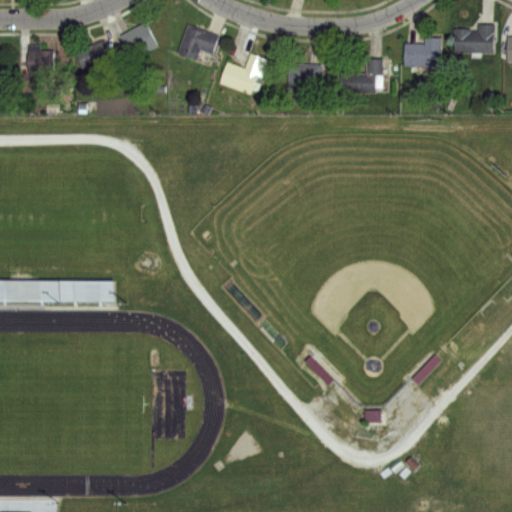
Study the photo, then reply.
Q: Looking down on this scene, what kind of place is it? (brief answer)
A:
sports ground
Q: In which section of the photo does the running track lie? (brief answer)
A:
bottom left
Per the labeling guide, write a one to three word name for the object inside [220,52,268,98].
house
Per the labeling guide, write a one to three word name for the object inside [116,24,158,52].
house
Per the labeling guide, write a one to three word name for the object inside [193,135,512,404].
baseball field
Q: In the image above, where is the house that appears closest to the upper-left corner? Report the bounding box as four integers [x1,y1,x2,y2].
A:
[28,44,56,78]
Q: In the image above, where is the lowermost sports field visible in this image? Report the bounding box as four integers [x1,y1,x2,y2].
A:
[0,332,203,474]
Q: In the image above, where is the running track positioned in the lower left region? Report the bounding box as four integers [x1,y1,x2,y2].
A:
[0,310,226,497]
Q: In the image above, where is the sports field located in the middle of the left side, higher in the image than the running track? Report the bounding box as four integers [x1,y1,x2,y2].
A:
[0,151,150,276]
